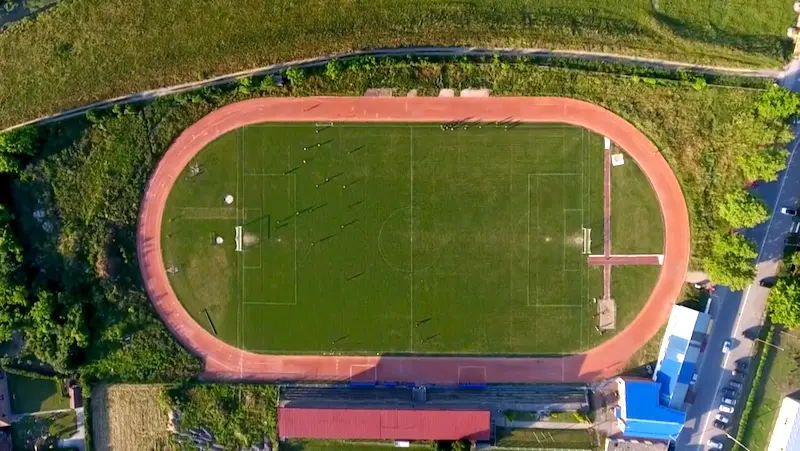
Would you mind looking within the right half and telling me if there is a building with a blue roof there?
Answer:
Yes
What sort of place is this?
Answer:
sports ground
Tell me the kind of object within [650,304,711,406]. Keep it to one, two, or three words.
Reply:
building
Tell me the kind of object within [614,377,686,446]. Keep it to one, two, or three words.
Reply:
building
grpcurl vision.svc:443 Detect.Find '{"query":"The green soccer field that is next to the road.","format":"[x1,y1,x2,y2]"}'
[238,126,590,351]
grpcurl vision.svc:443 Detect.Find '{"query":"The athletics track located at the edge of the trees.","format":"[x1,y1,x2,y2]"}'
[138,98,692,381]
